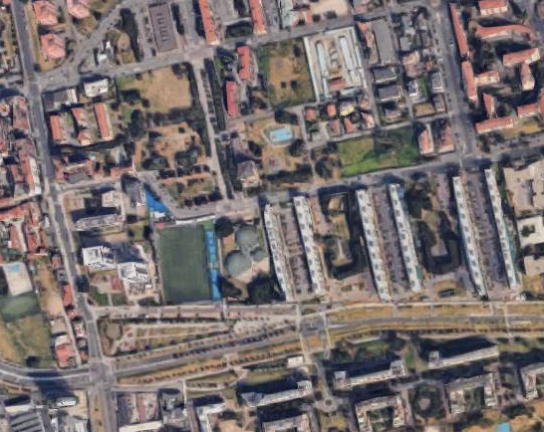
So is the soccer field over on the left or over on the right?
left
